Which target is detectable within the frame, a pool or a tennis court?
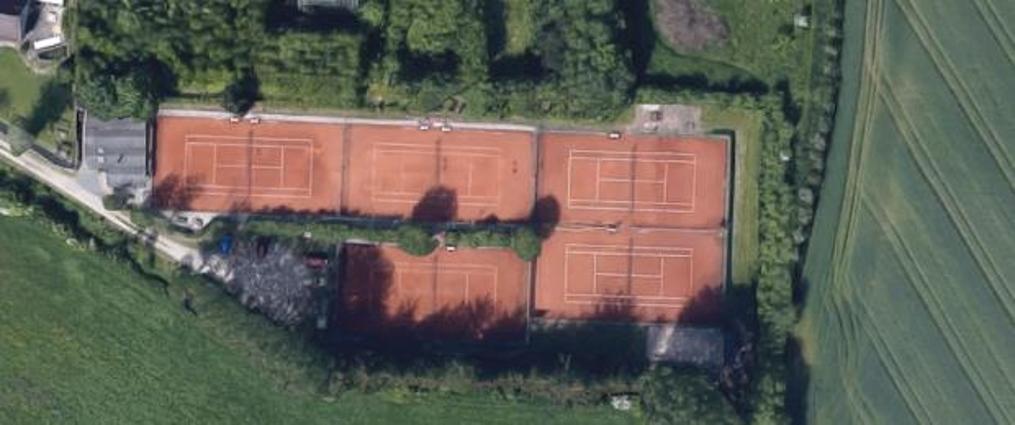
tennis court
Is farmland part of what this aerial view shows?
Yes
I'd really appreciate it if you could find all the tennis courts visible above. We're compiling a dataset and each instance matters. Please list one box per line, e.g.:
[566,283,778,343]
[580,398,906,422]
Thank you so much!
[533,226,725,325]
[339,243,531,345]
[342,124,538,223]
[150,117,345,217]
[536,131,728,231]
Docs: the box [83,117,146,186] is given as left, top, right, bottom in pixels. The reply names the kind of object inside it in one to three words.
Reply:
building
